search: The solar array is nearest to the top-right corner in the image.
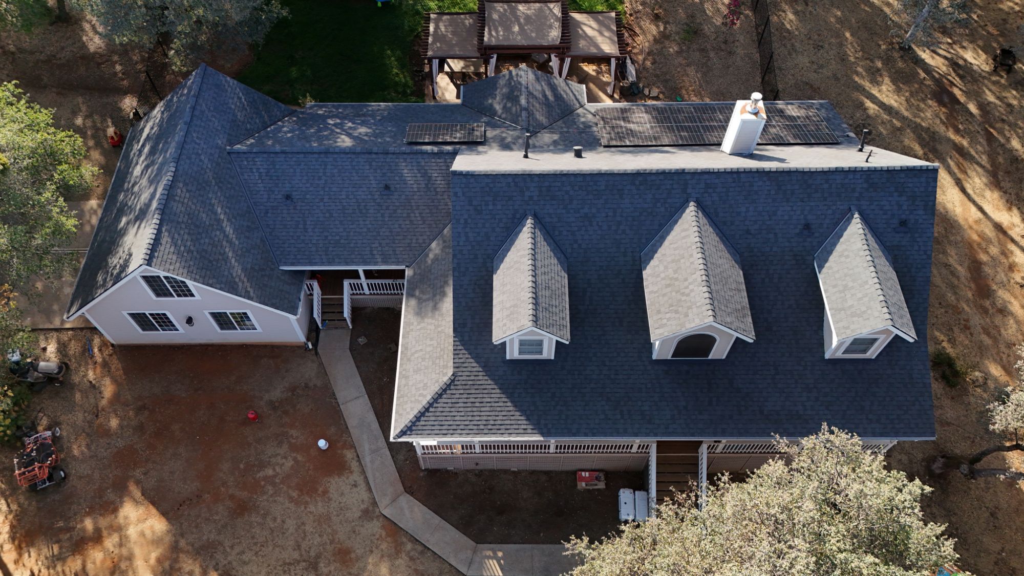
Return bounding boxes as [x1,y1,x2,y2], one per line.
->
[591,104,846,146]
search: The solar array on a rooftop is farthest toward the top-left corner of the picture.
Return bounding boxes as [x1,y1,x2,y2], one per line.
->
[403,120,486,143]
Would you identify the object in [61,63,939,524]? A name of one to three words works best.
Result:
house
